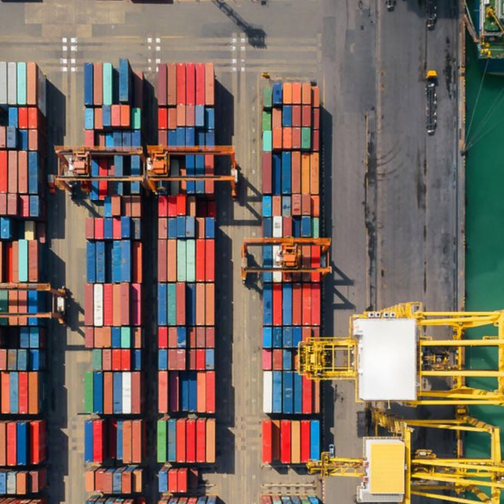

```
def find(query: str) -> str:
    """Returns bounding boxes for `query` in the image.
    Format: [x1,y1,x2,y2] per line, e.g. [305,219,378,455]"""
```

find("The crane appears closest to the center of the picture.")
[235,235,333,289]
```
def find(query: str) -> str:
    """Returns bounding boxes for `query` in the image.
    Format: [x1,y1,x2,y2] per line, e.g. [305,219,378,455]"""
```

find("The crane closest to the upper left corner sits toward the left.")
[49,144,153,205]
